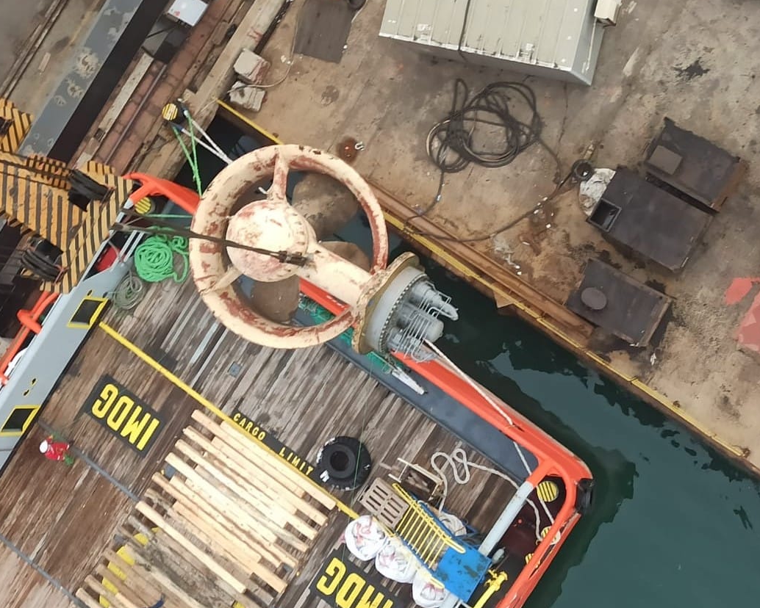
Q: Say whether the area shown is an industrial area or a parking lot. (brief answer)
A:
industrial area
